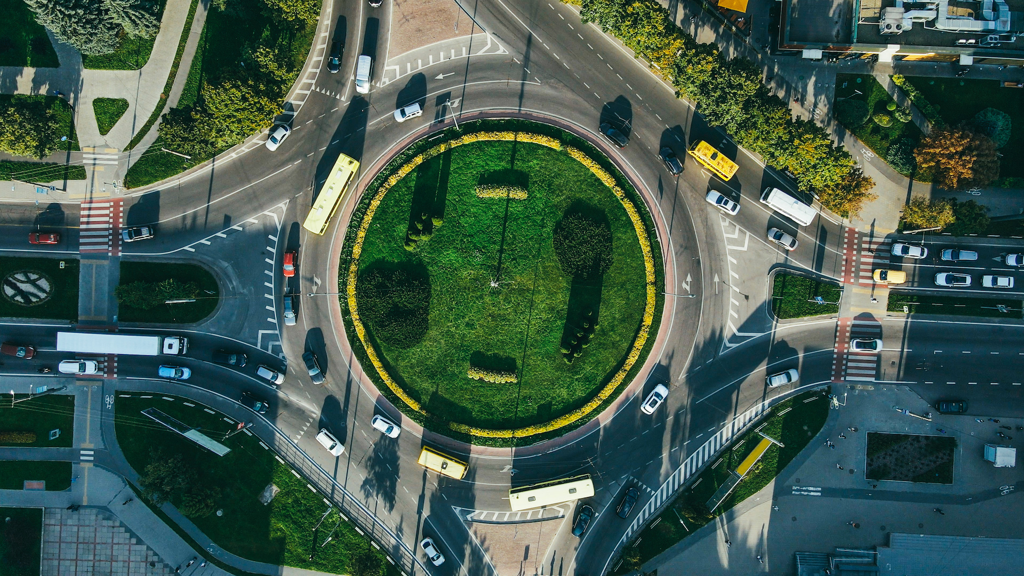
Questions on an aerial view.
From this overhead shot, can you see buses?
Yes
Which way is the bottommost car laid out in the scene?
on a diagonal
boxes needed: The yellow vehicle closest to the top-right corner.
[872,268,909,284]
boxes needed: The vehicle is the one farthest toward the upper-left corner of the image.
[29,230,61,246]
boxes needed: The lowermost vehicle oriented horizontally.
[508,471,598,513]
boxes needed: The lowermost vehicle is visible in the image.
[419,535,445,566]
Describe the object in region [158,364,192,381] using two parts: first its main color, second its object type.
blue car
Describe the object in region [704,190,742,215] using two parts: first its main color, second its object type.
white car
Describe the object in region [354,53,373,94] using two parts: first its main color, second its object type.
white vehicle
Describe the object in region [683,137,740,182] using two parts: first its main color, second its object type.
yellow bus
